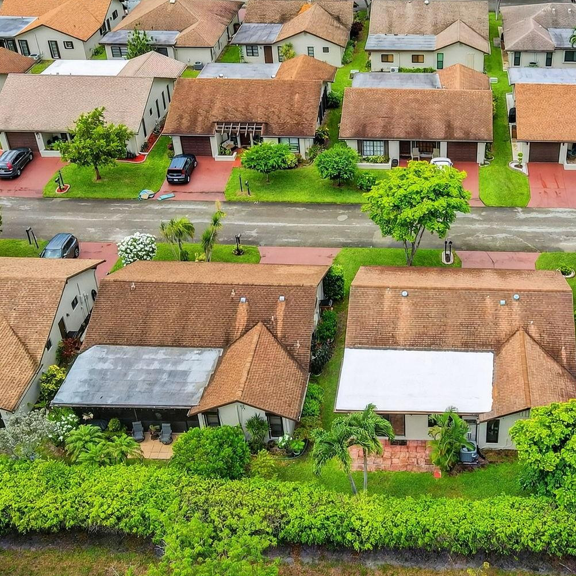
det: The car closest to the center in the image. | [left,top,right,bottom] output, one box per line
[166,151,200,179]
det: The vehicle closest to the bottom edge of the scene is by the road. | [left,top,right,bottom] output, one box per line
[39,232,85,260]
